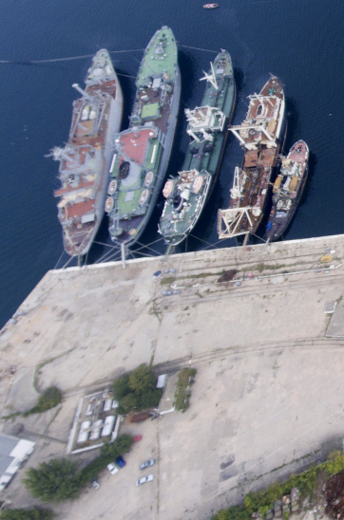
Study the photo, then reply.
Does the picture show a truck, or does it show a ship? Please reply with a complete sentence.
Of the two, only a ship appears.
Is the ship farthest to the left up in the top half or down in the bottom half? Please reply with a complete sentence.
The ship farthest to the left sits in the top half of the picture.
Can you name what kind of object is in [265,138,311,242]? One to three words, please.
ship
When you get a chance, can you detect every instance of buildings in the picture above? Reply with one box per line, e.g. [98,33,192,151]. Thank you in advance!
[157,374,171,389]
[0,430,48,492]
